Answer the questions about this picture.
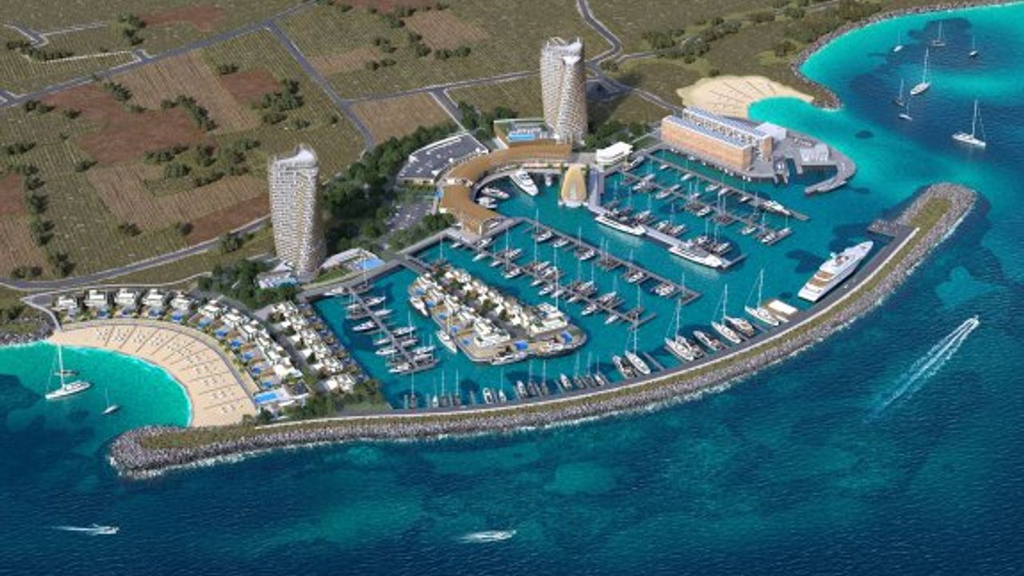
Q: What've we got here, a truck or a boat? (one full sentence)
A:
Looking from above, you can make out a boat.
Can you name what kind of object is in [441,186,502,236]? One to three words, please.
building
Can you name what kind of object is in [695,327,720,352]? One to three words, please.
boat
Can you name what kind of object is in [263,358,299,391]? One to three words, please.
house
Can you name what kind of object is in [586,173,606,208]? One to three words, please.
pier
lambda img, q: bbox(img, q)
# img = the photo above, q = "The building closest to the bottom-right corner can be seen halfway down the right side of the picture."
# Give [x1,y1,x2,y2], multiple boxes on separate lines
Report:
[760,297,802,320]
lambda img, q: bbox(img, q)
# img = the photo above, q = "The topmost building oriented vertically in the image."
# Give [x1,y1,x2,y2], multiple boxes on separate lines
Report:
[544,39,591,151]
